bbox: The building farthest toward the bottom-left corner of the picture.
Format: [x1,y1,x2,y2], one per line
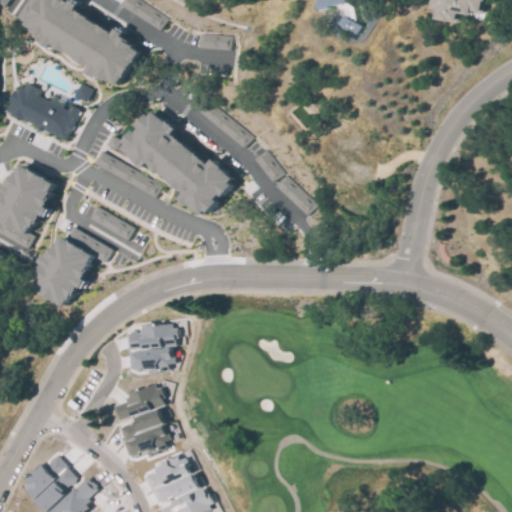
[26,458,102,512]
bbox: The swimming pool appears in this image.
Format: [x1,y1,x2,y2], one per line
[19,58,82,105]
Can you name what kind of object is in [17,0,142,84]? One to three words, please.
building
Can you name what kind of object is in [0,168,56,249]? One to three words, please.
building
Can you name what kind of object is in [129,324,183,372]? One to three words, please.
house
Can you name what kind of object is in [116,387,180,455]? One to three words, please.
house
